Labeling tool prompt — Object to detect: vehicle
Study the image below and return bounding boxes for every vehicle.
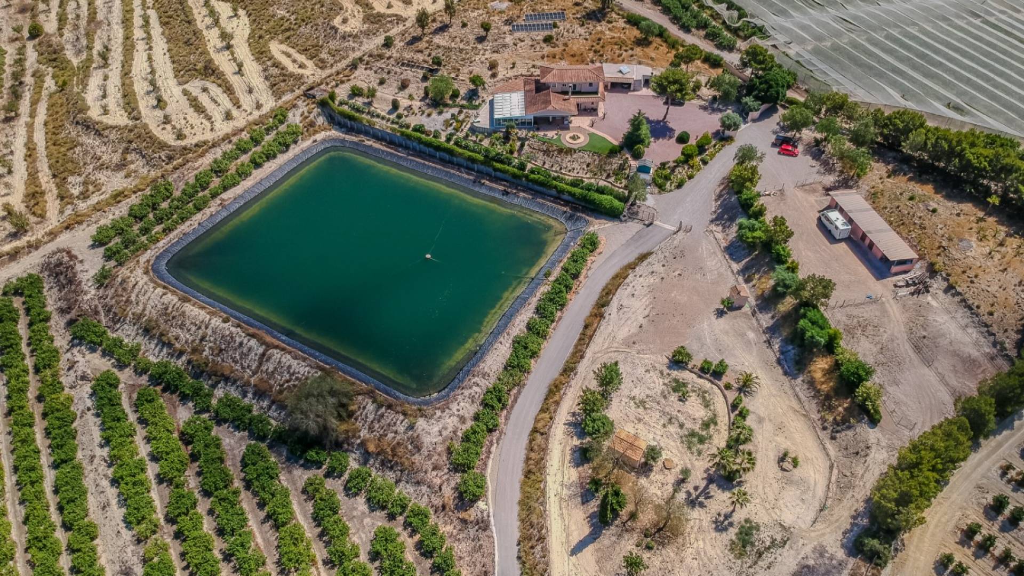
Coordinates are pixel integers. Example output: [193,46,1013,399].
[778,145,799,156]
[775,134,799,147]
[820,205,853,238]
[665,98,685,107]
[620,83,631,89]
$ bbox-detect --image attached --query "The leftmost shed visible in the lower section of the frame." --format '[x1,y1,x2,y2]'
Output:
[610,434,648,470]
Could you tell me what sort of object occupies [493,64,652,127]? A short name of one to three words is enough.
house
